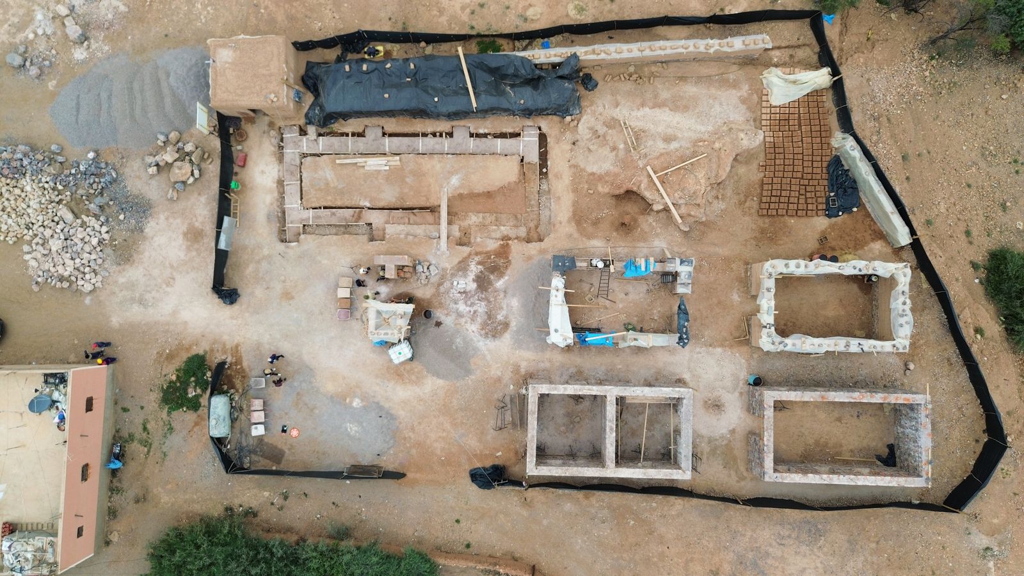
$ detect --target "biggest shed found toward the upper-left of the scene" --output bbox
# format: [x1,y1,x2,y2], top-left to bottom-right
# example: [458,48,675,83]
[205,34,312,130]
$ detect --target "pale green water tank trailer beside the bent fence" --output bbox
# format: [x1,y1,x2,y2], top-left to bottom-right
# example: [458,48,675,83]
[205,391,236,456]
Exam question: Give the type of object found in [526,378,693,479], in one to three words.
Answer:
house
